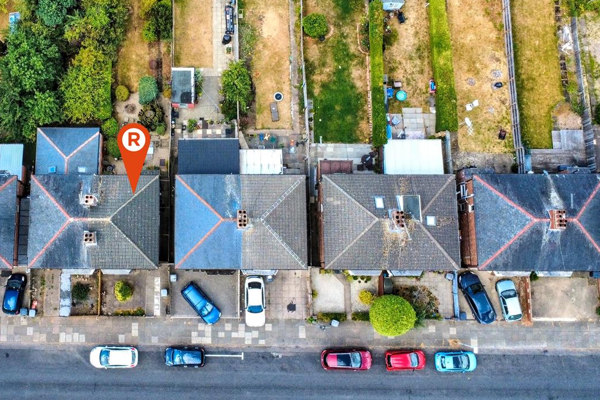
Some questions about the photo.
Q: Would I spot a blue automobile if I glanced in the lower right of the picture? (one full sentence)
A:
Yes, there is a blue automobile in the lower right of the picture.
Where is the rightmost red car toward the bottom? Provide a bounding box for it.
[384,349,425,372]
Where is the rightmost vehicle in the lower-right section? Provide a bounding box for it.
[493,278,523,323]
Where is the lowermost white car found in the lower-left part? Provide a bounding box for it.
[90,344,139,370]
